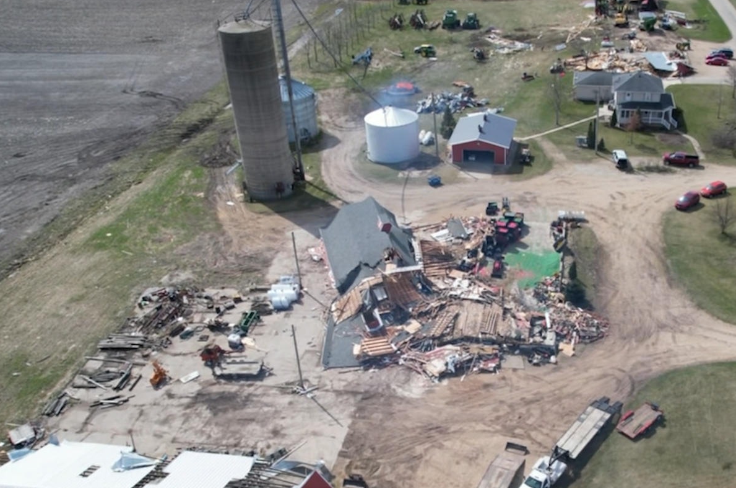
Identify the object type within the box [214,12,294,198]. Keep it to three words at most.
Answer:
silo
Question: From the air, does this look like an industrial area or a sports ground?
industrial area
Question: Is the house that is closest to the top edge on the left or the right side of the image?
right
